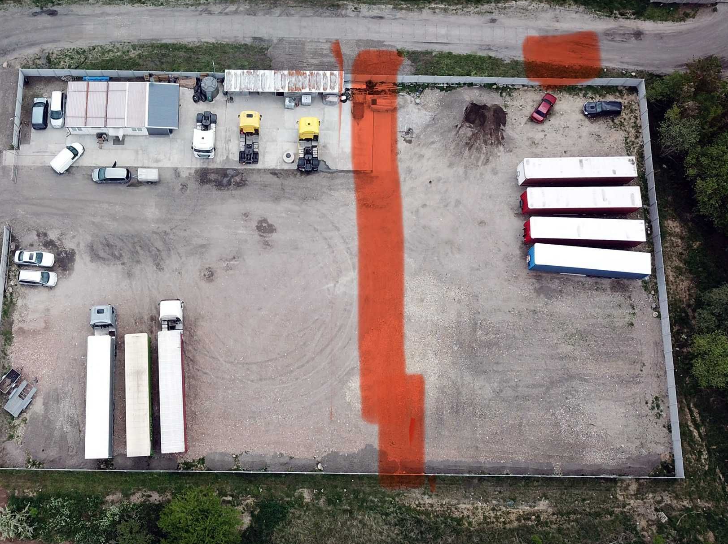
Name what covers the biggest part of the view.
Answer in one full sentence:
The bulk of the photo consists of paved ground.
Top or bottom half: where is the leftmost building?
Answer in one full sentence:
You can find the leftmost building in the top half.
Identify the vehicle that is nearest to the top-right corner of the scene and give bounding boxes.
[582,99,623,118]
